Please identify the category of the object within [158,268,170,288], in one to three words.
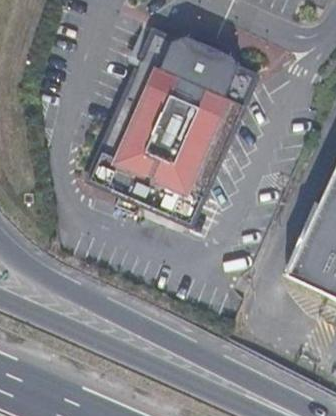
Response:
vehicle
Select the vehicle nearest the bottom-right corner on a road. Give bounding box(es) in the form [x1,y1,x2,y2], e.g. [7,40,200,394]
[308,403,329,416]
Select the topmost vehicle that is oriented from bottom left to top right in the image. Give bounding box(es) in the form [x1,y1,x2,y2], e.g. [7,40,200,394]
[145,0,166,16]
